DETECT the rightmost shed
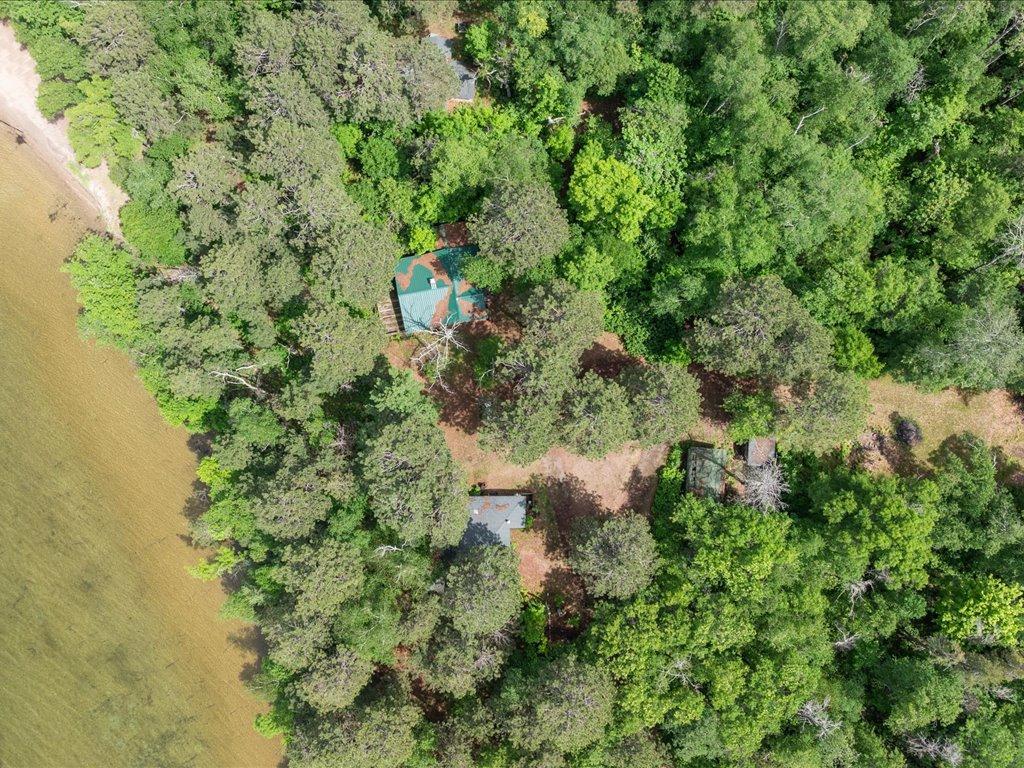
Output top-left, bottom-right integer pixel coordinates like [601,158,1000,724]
[742,437,776,465]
